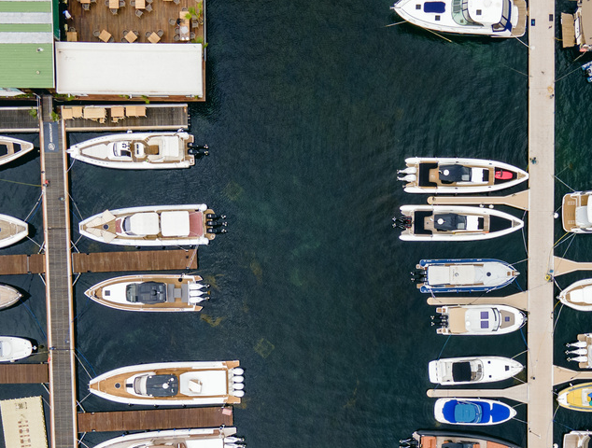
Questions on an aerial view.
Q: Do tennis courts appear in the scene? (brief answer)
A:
No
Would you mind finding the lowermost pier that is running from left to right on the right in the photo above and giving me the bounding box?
[427,384,529,403]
